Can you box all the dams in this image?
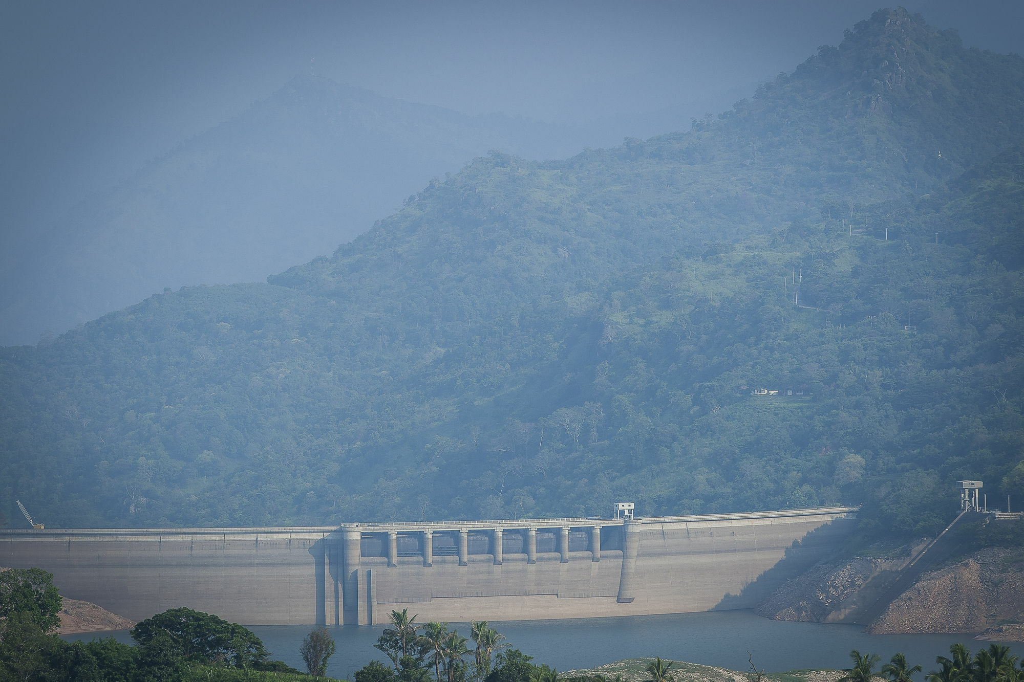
[0,502,872,627]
